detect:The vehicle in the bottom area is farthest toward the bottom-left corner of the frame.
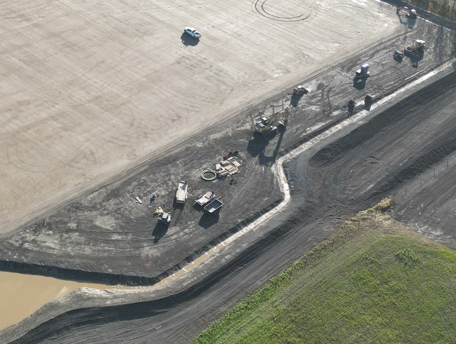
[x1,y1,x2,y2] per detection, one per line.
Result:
[157,213,172,225]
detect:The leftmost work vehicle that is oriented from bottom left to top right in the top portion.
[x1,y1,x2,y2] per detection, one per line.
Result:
[254,104,294,138]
